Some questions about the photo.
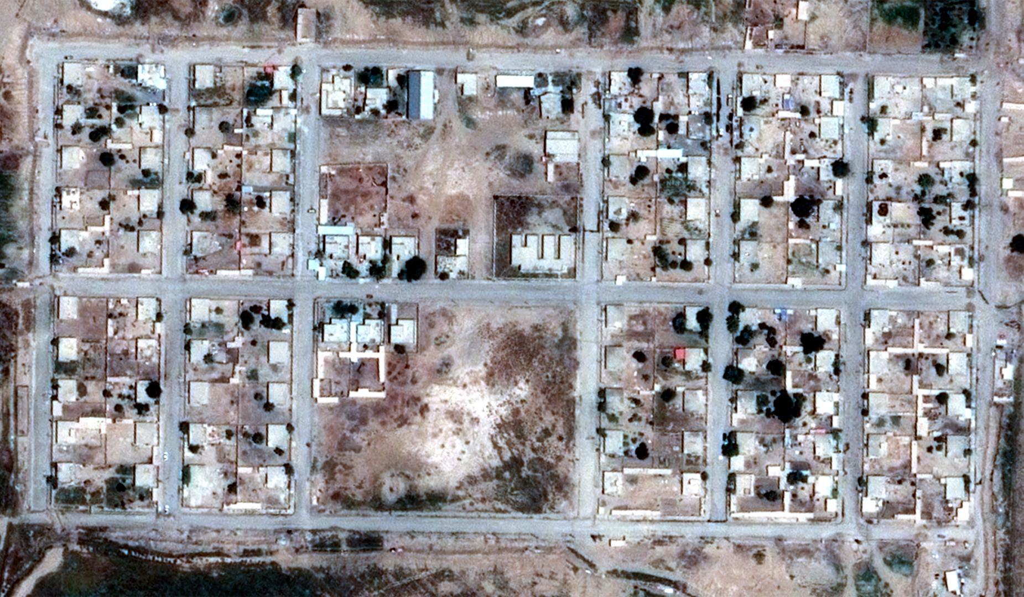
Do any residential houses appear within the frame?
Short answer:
Yes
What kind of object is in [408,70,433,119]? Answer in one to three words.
building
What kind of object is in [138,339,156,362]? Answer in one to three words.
house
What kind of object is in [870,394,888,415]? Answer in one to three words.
house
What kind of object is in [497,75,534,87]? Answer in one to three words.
shed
